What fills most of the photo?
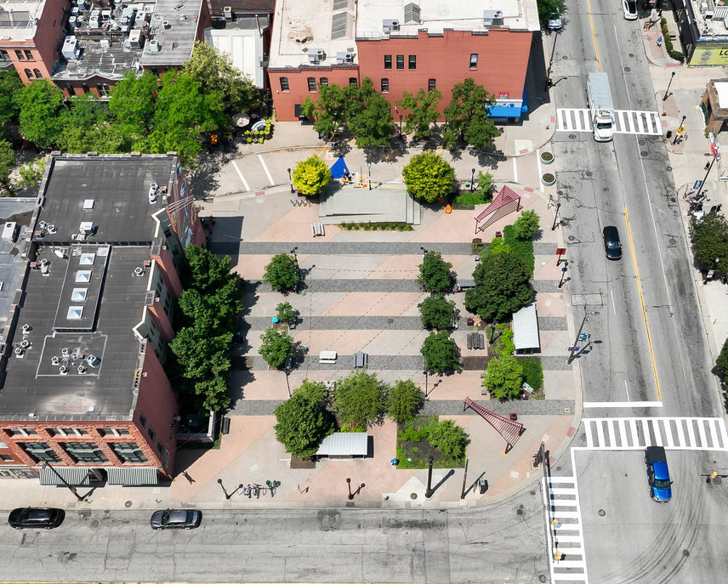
paved ground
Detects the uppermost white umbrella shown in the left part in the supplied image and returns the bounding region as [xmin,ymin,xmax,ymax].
[233,114,251,132]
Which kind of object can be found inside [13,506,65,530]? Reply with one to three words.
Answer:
car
